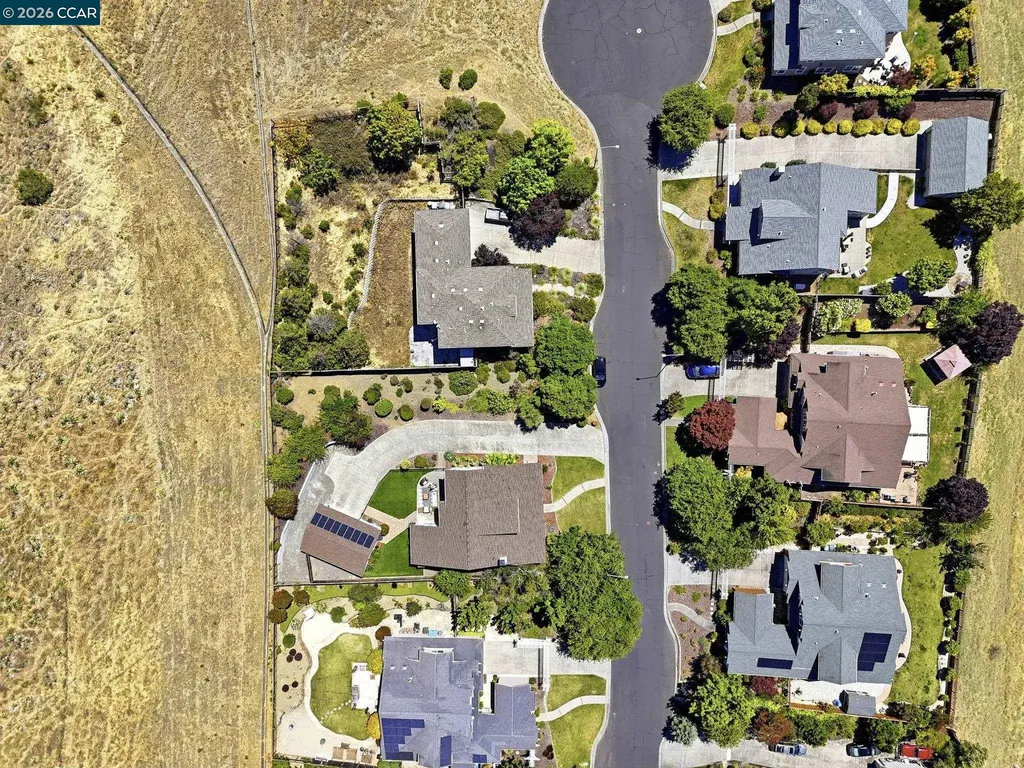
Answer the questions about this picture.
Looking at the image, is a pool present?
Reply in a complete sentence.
No, there is no pool in the image.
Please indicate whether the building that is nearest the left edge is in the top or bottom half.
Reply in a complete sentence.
Seen from above, the building that is nearest the left edge lies in the bottom half of the view.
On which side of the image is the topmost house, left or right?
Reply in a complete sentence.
You can find the topmost house on the right side of the picture.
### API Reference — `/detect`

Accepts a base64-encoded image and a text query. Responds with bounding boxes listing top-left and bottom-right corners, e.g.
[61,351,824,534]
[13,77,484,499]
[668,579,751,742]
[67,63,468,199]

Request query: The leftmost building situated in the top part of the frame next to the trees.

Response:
[413,208,534,347]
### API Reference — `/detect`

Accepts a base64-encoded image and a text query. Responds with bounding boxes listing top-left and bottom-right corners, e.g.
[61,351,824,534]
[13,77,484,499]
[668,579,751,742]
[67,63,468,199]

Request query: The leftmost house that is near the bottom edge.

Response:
[379,634,537,768]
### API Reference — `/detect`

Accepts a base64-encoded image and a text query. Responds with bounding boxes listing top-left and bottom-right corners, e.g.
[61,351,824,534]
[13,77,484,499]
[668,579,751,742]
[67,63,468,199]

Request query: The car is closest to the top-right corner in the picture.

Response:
[688,363,720,380]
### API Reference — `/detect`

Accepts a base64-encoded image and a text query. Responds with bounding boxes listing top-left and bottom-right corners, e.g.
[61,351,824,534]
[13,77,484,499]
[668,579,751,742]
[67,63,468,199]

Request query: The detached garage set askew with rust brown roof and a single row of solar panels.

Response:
[300,503,381,576]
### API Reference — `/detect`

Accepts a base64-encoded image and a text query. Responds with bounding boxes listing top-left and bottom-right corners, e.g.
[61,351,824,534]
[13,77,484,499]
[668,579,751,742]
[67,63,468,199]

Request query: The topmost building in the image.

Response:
[770,0,908,76]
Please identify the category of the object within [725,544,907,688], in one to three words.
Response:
house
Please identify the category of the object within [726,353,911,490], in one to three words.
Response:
house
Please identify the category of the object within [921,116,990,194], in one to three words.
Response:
building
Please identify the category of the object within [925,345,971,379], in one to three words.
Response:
gazebo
